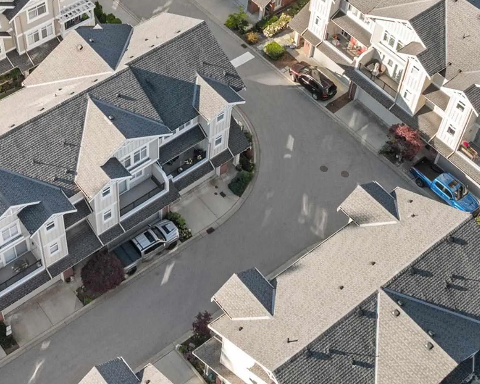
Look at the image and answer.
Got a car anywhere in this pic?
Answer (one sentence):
Yes, you can see a car in this photo.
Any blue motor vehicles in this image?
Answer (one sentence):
Yes, looking at the shot, I can spot a blue motor vehicle.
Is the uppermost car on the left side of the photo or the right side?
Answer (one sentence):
You can find the uppermost car on the right side of the picture.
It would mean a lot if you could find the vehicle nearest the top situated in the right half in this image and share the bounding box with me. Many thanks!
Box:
[290,65,340,100]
